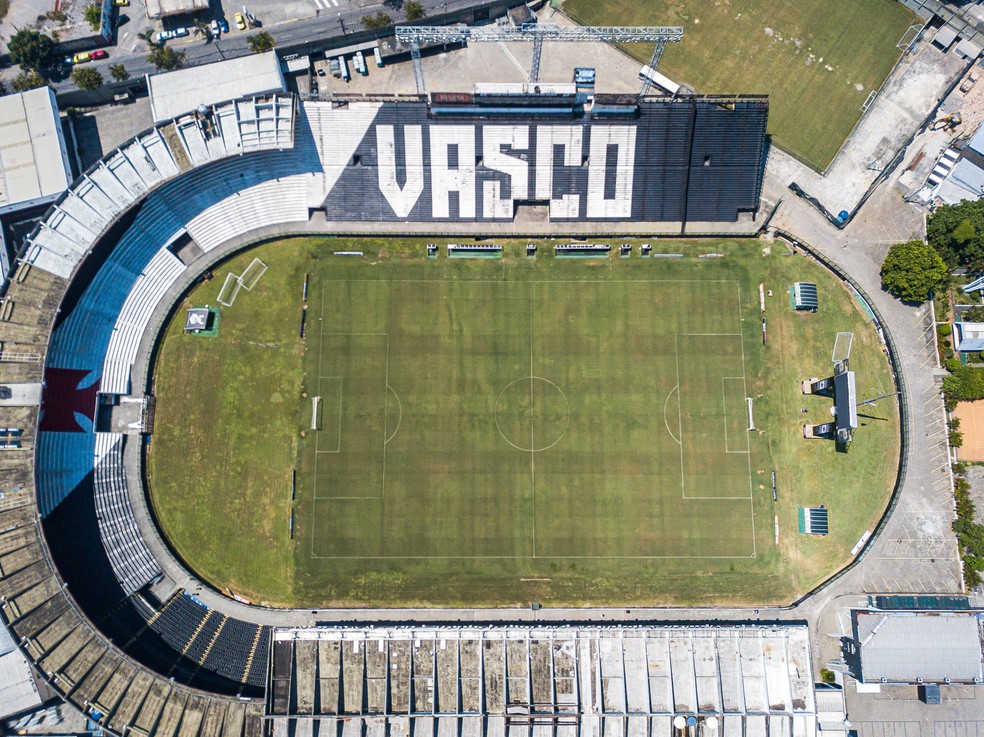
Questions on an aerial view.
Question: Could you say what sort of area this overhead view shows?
sports ground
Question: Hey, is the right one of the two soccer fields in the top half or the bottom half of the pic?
top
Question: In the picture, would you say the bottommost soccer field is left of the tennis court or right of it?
to the left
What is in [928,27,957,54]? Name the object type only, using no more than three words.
shed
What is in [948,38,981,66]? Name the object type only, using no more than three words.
shed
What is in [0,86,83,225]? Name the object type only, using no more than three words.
building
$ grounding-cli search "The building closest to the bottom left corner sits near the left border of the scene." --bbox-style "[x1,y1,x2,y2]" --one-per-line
[0,649,60,719]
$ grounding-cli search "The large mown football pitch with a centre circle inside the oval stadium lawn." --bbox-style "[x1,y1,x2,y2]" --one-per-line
[149,236,899,608]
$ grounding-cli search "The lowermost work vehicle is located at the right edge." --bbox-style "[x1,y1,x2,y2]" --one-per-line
[929,111,966,127]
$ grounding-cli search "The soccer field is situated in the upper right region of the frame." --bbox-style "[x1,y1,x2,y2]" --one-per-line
[561,0,927,172]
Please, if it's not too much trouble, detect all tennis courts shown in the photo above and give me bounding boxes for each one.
[954,400,984,461]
